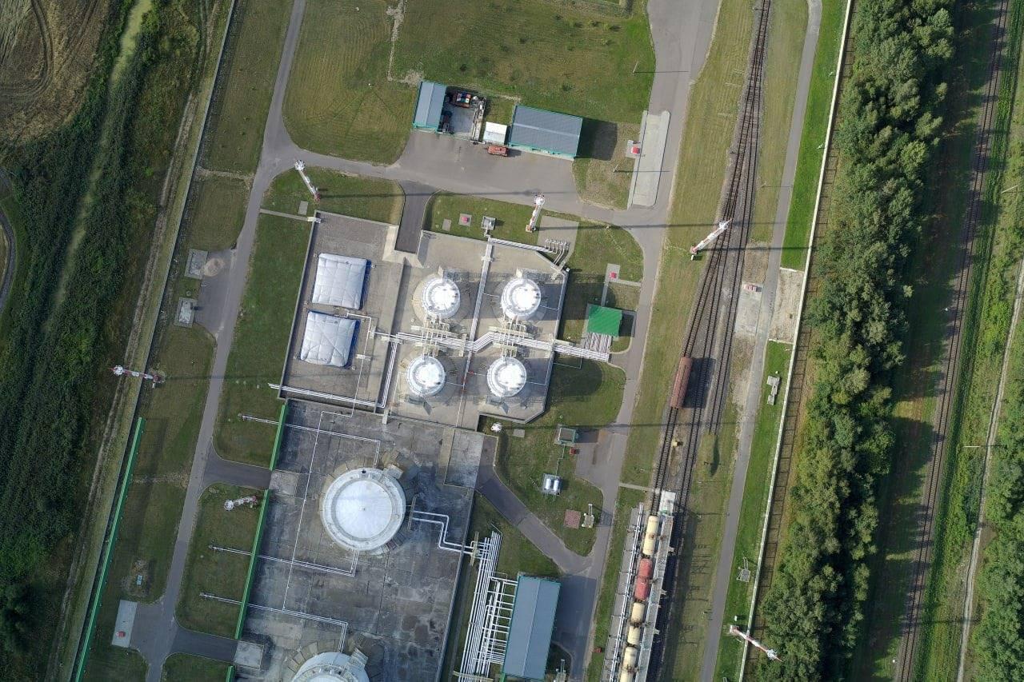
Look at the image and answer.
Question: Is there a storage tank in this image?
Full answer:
Yes, the frame does contain a storage tank.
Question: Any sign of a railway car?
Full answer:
Yes, there's a railway car down there.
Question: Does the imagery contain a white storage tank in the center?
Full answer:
Yes, a white storage tank shows up in the center.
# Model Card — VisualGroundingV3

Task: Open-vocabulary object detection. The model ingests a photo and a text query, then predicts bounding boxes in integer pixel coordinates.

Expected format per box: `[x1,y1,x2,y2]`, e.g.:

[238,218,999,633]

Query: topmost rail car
[670,358,696,411]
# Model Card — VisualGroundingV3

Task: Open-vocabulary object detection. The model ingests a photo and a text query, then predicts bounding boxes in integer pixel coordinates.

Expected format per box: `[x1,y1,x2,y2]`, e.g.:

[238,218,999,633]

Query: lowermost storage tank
[280,639,381,682]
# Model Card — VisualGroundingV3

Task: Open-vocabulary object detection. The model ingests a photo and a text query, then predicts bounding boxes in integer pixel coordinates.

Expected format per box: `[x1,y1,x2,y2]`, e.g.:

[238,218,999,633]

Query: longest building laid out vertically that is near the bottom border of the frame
[503,576,561,680]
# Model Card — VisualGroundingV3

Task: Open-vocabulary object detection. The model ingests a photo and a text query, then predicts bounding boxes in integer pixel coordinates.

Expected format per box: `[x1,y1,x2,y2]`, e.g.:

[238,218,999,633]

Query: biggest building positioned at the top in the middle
[509,105,582,160]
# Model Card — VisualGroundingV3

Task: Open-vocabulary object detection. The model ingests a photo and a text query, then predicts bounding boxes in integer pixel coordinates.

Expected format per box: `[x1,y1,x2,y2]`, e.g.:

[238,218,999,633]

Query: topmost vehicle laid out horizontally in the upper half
[445,92,472,108]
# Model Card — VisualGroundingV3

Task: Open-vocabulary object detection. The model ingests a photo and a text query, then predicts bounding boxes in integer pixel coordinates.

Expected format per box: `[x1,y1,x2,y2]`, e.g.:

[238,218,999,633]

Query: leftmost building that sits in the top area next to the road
[414,81,446,134]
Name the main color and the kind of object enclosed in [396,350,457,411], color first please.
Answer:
white storage tank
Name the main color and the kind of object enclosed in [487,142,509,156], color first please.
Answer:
red vehicle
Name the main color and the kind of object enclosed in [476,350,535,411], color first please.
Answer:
white storage tank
